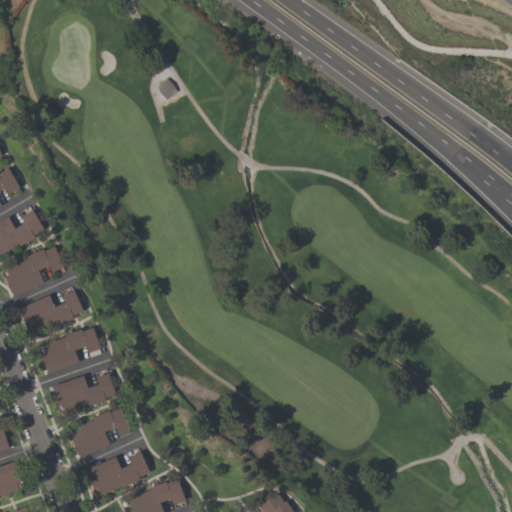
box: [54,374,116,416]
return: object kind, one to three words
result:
house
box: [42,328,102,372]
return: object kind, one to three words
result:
house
